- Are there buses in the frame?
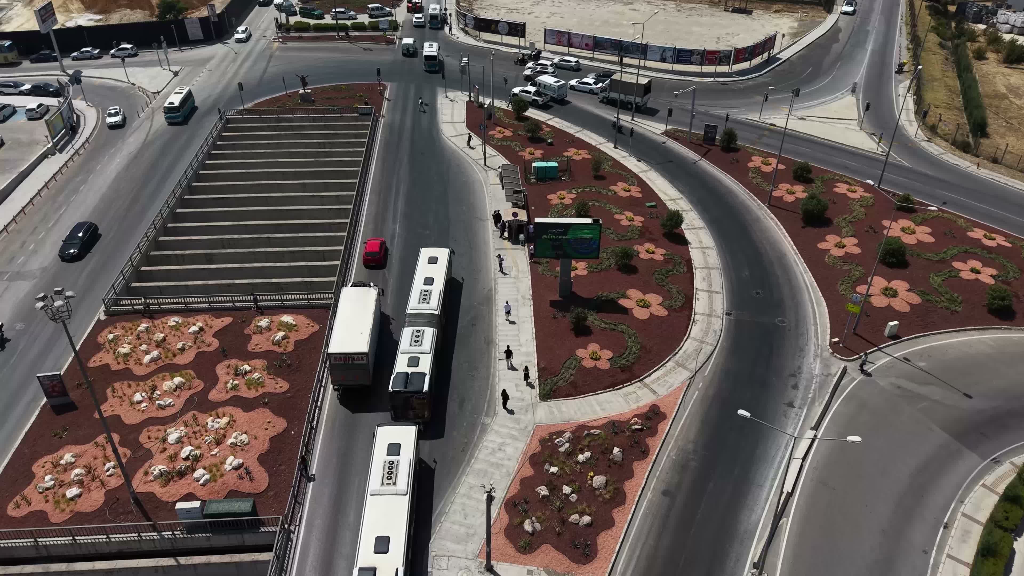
Yes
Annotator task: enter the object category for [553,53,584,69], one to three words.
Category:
car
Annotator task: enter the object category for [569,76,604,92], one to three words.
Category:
car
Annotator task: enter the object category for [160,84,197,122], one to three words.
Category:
vehicle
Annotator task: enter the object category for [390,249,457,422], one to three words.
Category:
bus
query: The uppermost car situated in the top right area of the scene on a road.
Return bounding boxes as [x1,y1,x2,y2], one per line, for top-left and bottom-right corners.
[843,1,856,15]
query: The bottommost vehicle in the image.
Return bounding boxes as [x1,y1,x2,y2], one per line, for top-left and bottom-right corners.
[352,425,426,576]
